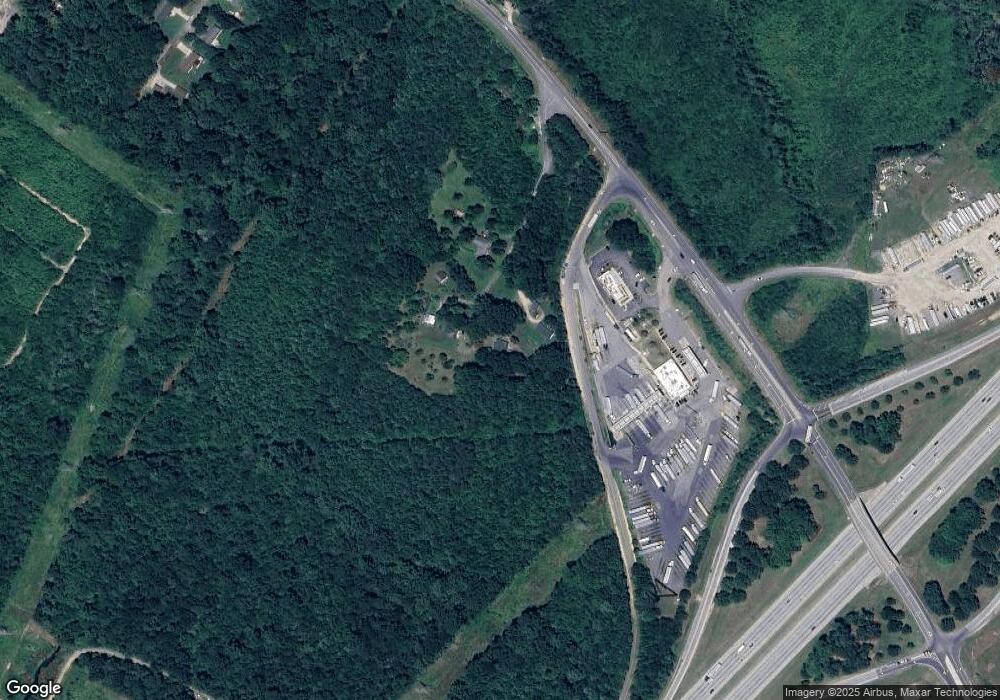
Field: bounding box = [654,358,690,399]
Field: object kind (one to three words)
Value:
building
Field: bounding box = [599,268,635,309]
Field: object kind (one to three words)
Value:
building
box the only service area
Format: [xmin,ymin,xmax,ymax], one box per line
[562,245,742,595]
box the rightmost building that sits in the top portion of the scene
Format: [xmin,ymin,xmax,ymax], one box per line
[944,265,969,291]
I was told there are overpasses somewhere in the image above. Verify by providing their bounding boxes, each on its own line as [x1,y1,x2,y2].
[849,499,901,571]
